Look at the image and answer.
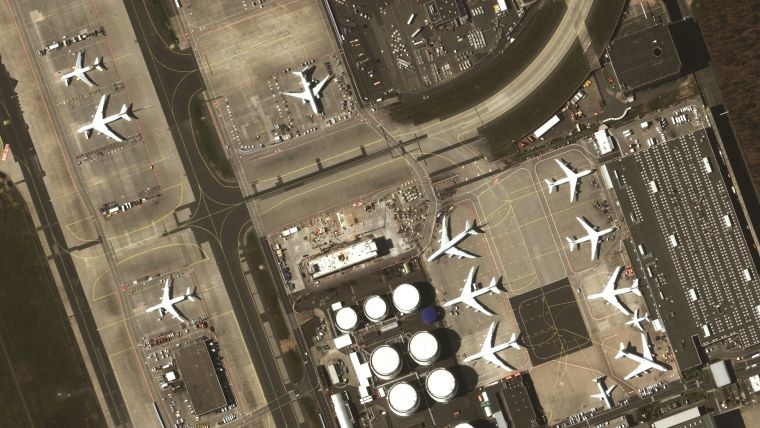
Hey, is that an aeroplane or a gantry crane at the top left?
aeroplane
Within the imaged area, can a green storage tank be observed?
No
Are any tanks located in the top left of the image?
No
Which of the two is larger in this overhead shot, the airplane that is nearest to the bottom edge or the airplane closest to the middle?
the airplane closest to the middle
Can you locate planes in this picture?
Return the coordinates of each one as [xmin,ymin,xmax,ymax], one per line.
[626,309,649,331]
[427,214,482,262]
[146,278,196,324]
[79,95,133,143]
[588,265,641,315]
[280,66,330,113]
[464,322,522,373]
[591,375,618,408]
[444,266,501,317]
[63,50,105,86]
[566,216,615,260]
[615,333,671,383]
[543,157,593,202]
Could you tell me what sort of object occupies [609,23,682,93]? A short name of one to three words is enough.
hangar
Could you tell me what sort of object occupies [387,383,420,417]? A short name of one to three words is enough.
storage tank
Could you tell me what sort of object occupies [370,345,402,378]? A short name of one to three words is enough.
storage tank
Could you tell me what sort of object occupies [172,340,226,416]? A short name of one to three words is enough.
building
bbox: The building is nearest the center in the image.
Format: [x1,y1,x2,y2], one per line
[309,241,379,279]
